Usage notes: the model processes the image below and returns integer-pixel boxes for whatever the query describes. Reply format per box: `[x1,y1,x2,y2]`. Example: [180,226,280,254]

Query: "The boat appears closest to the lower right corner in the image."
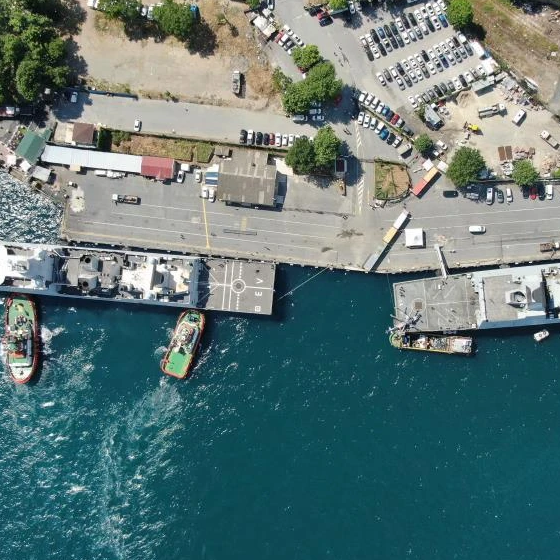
[532,329,549,342]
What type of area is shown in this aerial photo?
port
